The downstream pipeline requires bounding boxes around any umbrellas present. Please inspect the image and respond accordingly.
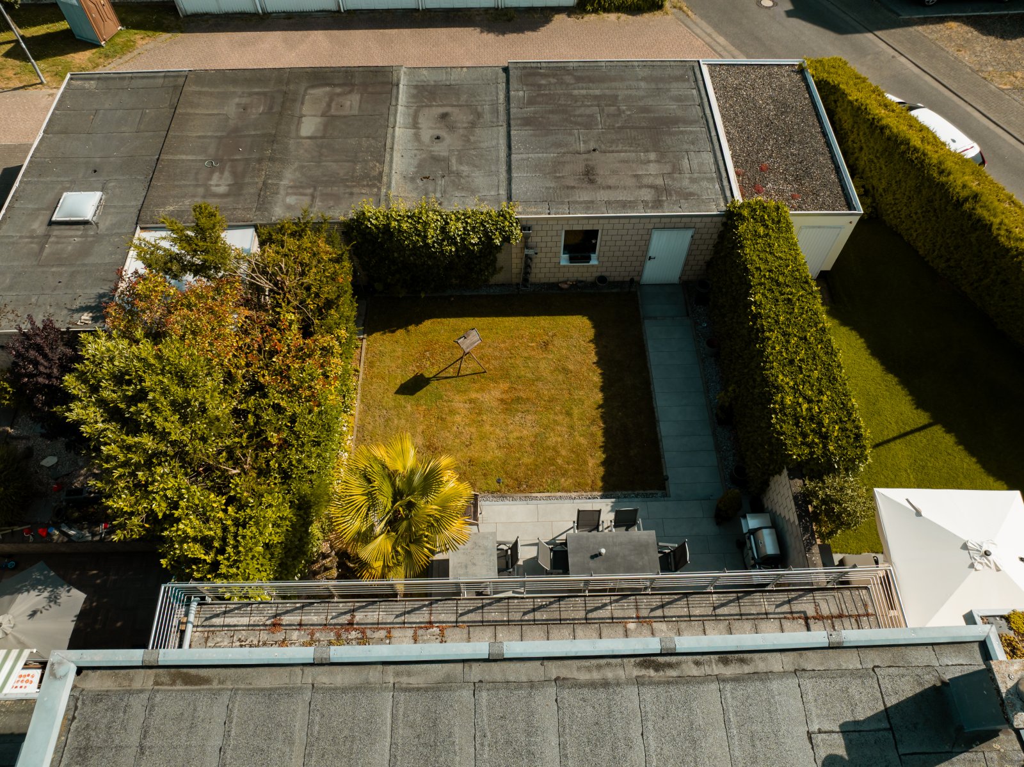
[866,485,1024,629]
[0,555,103,661]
